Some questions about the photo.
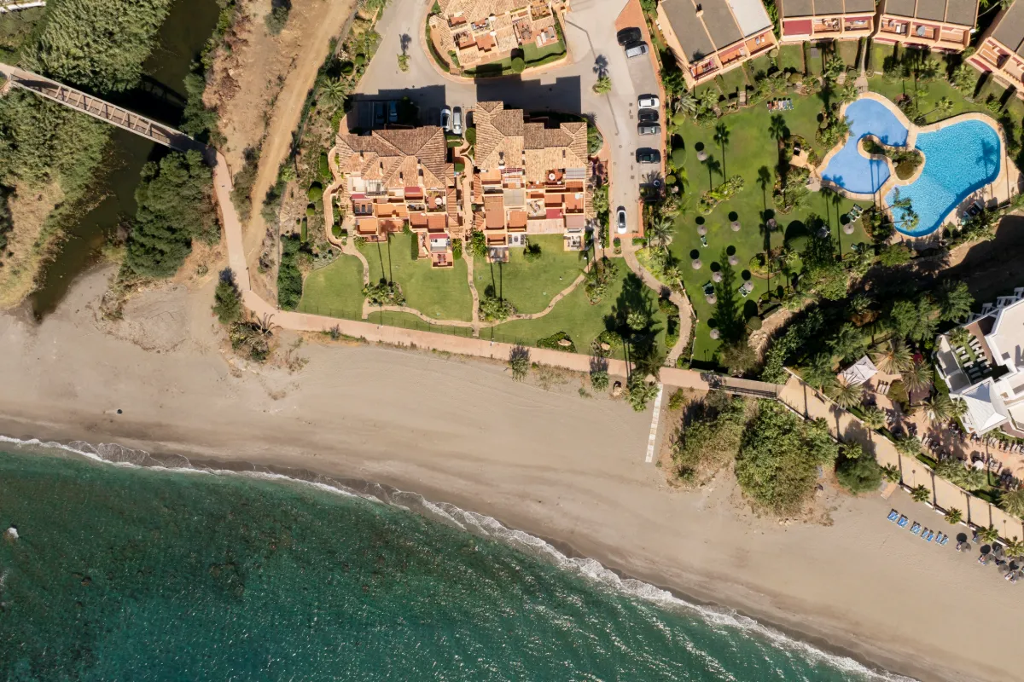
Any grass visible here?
Yes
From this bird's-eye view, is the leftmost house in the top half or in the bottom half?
top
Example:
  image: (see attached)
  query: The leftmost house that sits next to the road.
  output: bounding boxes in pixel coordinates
[335,124,463,267]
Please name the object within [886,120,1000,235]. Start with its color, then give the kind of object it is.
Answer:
blue swimming pool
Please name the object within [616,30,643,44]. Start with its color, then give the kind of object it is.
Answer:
black car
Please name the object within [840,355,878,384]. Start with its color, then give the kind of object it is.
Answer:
white gazebo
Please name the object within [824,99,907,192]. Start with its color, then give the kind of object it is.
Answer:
blue swimming pool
